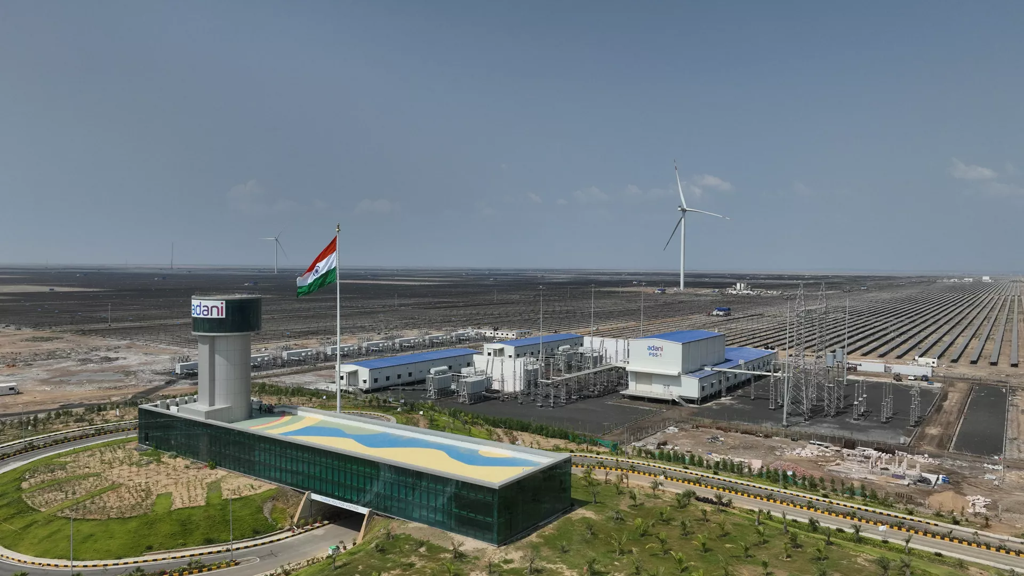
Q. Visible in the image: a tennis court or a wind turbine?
wind turbine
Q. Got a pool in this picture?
No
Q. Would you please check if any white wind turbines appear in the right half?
Yes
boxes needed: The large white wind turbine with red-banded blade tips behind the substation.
[662,162,729,291]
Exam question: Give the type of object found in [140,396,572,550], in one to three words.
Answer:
building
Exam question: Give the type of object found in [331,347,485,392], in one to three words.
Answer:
building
